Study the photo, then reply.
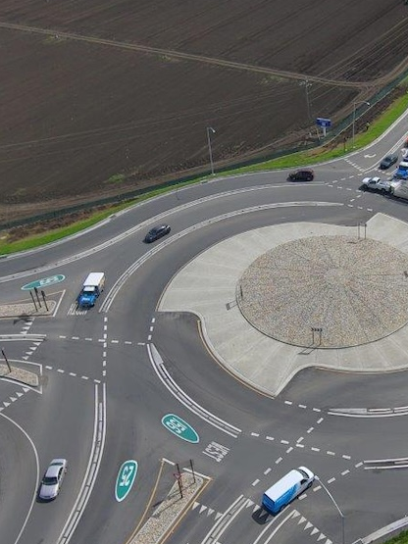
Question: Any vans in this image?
Yes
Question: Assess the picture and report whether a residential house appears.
No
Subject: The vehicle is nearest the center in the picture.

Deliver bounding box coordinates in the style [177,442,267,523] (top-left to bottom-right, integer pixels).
[141,223,171,245]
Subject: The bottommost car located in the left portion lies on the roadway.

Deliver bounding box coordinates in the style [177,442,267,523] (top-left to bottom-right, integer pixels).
[36,463,67,503]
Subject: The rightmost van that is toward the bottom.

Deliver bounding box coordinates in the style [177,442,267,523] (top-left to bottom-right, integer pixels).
[260,475,316,521]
